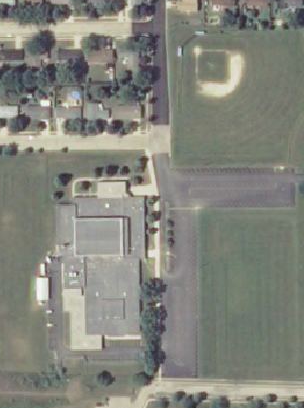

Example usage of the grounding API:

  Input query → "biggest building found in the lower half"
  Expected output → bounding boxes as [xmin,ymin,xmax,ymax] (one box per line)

[56,181,146,351]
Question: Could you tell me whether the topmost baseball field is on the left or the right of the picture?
right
